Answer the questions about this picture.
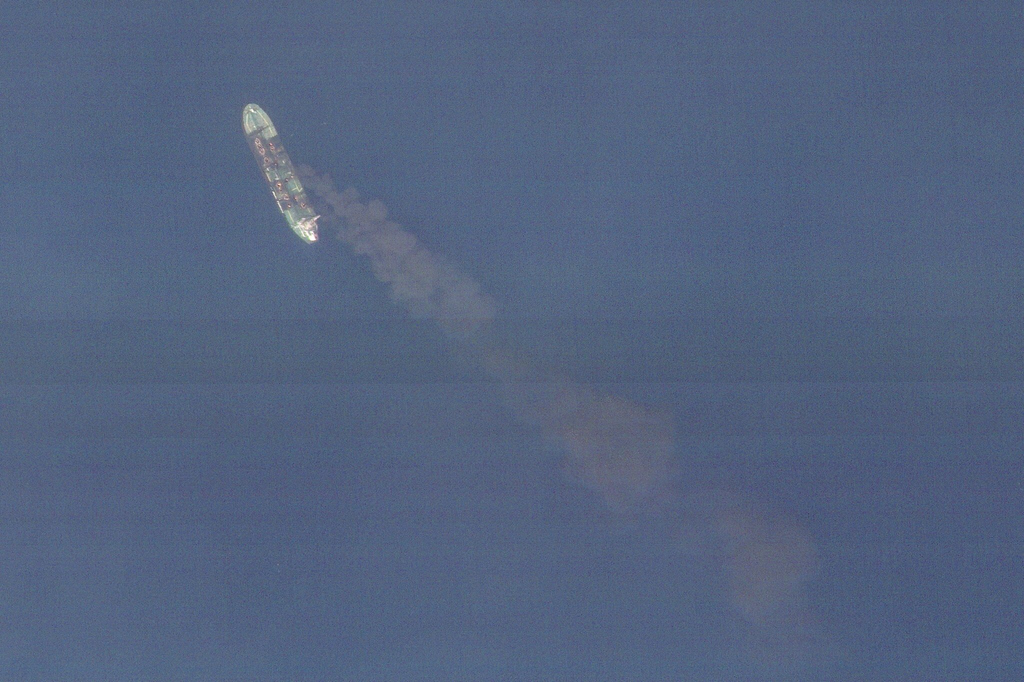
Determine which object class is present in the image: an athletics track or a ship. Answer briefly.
ship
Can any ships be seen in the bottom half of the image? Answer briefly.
No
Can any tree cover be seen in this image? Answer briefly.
No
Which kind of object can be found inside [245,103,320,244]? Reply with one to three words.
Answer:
ship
